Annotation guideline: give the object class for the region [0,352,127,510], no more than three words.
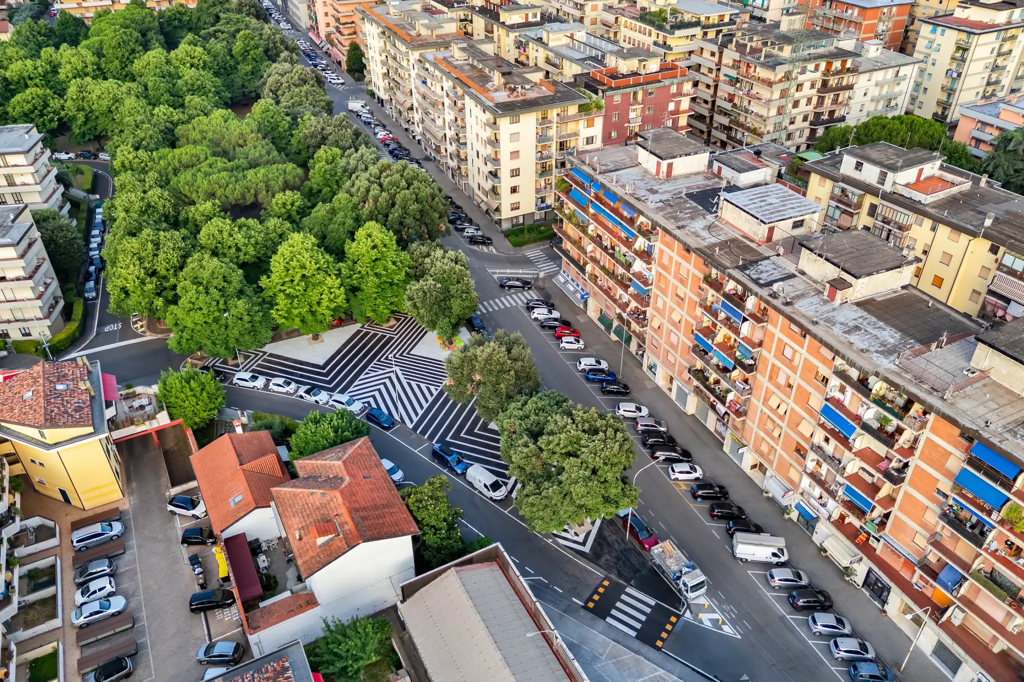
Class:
house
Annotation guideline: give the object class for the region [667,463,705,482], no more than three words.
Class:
car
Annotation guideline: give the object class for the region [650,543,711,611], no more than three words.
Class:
truck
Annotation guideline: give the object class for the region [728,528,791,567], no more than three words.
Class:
van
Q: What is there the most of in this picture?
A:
buildings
